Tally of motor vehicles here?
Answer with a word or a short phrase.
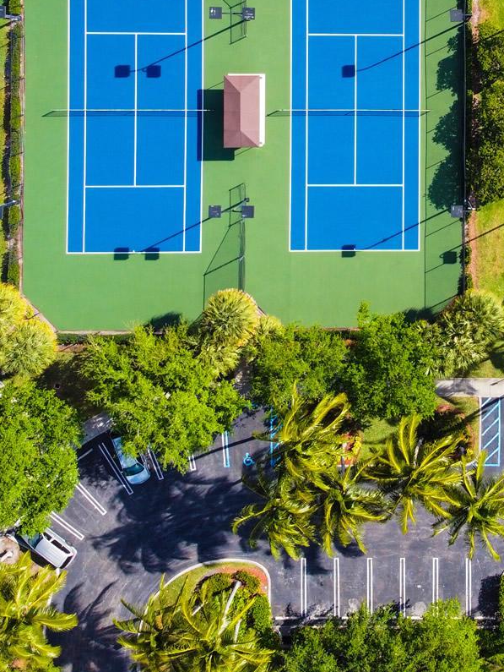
2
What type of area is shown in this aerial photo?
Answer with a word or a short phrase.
sports ground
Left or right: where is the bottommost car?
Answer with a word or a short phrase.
left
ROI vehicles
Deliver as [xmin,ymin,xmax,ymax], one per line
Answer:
[103,434,149,488]
[14,520,75,571]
